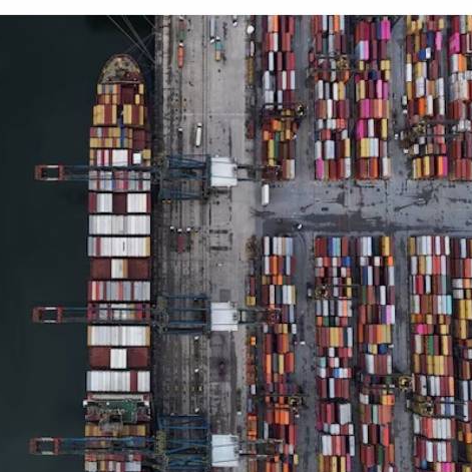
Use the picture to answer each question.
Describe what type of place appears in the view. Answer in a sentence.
What you see here is a port.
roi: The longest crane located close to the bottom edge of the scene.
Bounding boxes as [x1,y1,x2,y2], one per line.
[30,403,286,470]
